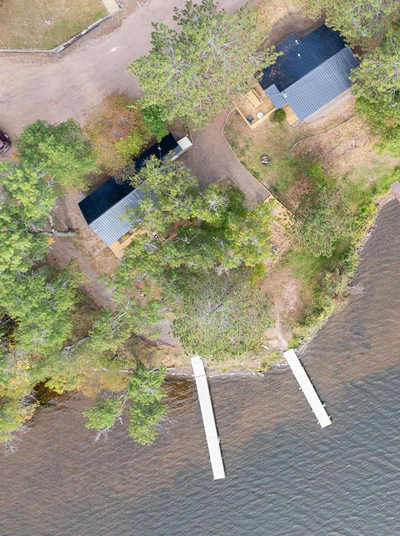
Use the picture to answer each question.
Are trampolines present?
No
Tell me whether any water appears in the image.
Yes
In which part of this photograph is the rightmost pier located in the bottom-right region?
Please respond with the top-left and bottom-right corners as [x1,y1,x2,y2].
[284,349,331,431]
